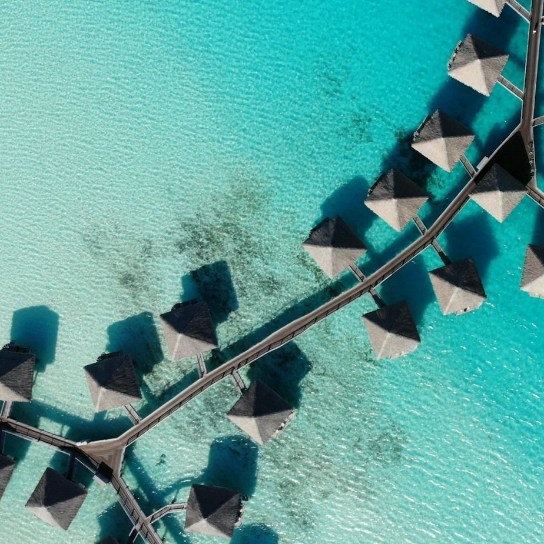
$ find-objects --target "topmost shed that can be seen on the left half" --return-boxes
[160,299,220,360]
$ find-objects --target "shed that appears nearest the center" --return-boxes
[302,213,369,280]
